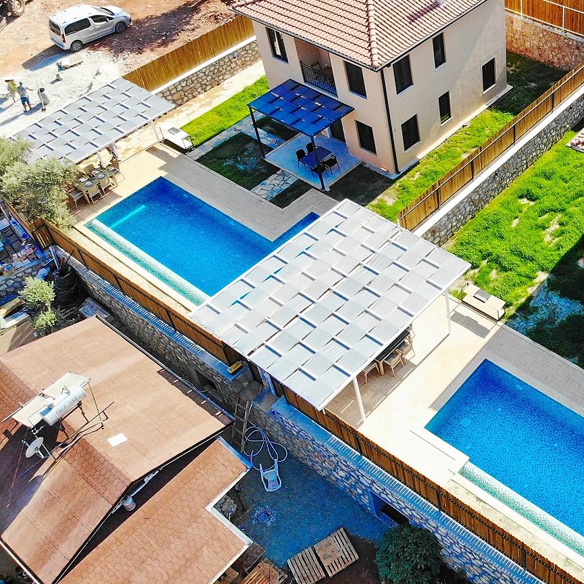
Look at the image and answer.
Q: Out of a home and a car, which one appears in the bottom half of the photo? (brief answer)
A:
home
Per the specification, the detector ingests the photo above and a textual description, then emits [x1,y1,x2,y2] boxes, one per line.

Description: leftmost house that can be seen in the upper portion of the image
[228,0,519,183]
